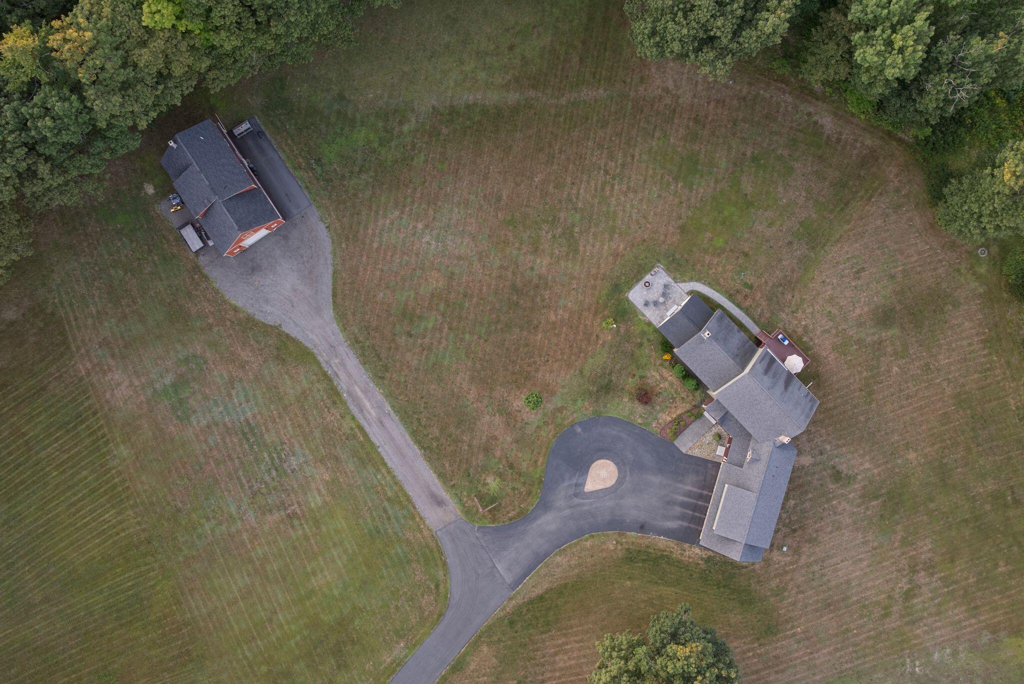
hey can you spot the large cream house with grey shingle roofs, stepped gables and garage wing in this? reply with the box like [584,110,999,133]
[656,292,819,562]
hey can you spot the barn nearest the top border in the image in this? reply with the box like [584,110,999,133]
[161,119,285,257]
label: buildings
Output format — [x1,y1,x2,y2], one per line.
[161,119,285,257]
[656,292,819,562]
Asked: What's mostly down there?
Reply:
grass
